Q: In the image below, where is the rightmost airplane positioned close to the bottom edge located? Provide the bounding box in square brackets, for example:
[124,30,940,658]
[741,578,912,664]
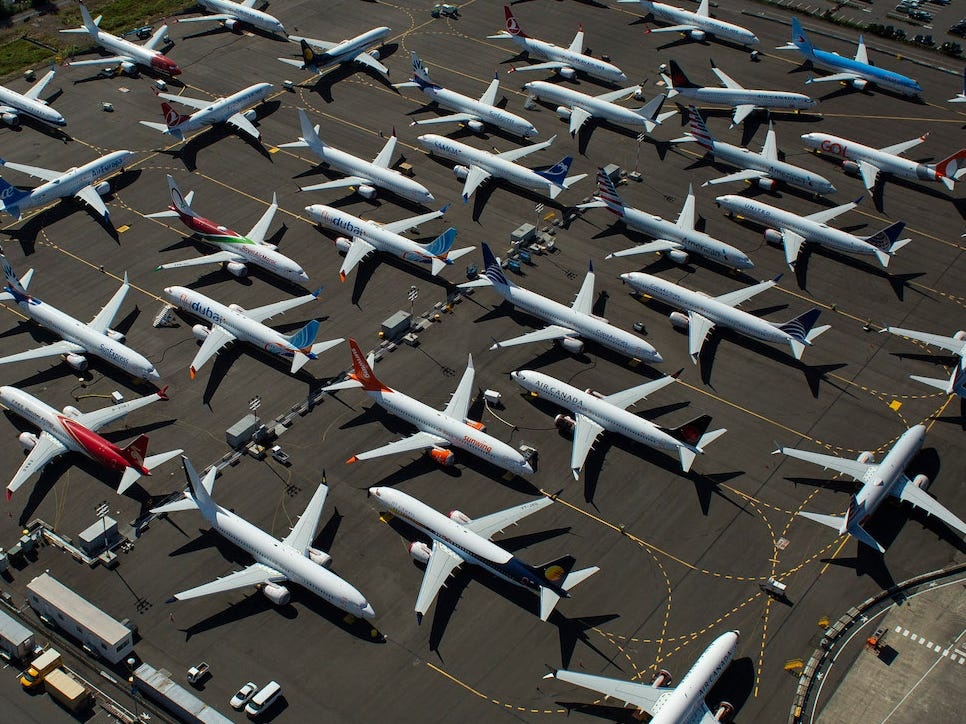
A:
[542,631,742,724]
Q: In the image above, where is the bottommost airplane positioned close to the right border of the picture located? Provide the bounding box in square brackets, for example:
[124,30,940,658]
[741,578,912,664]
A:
[771,424,966,554]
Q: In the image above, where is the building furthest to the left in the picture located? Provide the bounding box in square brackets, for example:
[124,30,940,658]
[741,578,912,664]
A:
[0,604,36,658]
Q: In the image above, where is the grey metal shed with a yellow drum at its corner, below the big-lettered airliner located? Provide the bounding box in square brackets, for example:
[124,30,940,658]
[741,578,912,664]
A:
[381,310,411,339]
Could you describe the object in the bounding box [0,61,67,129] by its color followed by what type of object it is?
white airplane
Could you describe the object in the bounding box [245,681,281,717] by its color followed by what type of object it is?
white van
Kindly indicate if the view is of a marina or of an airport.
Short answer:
airport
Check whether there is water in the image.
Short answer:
No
